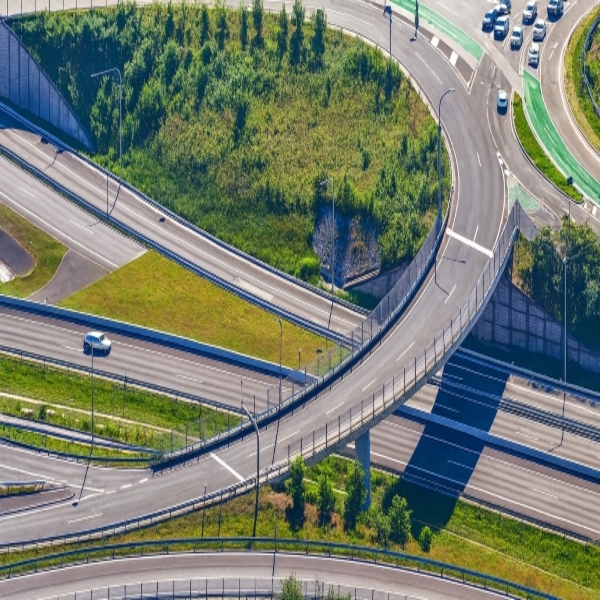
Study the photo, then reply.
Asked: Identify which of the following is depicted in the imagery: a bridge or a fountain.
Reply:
bridge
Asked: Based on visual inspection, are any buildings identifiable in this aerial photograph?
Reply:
No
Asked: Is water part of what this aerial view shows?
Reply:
No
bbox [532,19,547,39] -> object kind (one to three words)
car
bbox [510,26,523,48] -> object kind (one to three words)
vehicle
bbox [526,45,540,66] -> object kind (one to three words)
car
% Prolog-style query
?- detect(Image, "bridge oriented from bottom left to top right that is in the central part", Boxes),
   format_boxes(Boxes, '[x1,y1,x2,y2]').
[135,199,515,504]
